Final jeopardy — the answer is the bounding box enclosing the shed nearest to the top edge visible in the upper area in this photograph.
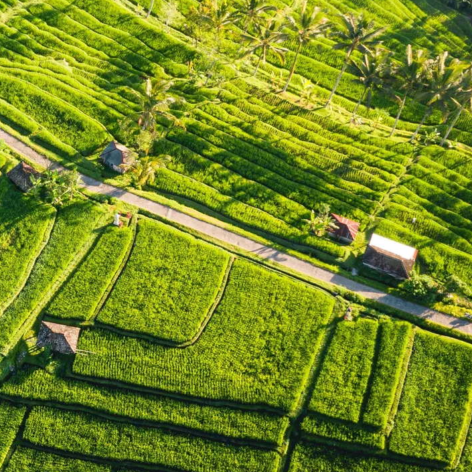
[100,143,134,178]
